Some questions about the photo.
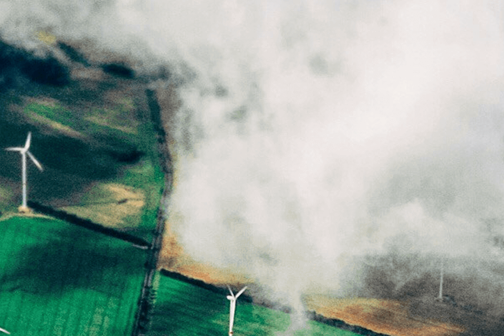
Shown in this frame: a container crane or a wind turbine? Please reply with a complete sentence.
The one in the frame is a wind turbine.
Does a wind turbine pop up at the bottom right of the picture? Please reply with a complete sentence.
Yes, a wind turbine shows up at the bottom right of the picture.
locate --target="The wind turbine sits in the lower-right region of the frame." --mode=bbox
[424,225,461,300]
